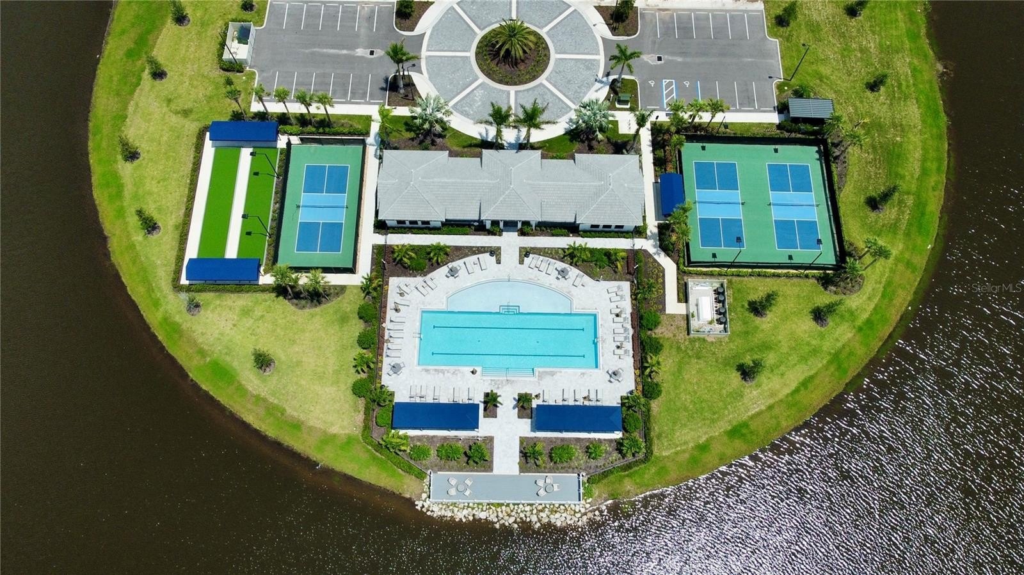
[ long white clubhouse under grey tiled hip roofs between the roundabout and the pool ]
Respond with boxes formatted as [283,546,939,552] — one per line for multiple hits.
[374,148,648,231]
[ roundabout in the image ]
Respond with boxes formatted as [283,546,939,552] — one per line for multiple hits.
[421,0,604,134]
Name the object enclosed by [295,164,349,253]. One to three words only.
sports court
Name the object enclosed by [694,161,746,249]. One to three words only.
sports court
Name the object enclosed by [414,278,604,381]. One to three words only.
swimming pool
